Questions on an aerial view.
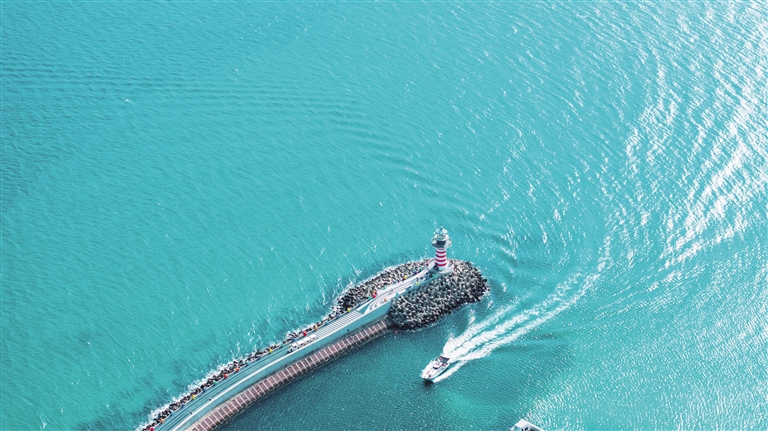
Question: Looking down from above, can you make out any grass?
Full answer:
No, no grass is visible.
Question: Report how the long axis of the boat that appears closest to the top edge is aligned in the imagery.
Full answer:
Seen from above, the boat that appears closest to the top edge lies on a diagonal.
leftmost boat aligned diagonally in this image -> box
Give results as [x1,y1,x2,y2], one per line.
[427,354,453,379]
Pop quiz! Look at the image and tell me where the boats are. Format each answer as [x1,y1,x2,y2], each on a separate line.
[427,354,453,379]
[512,419,544,431]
